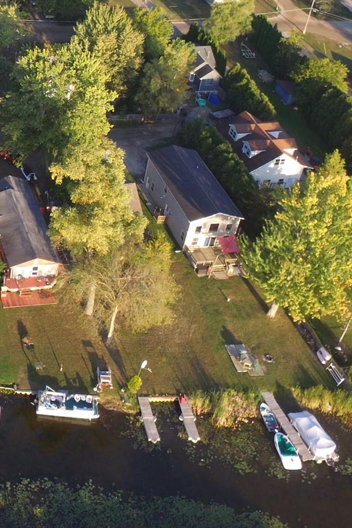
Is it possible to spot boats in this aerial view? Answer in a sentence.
Yes, the frame does contain a boat.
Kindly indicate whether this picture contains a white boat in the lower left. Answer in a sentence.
Yes, a white boat is visible in the lower left.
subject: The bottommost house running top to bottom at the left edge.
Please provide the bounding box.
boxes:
[0,175,69,311]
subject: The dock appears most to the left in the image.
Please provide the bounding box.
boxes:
[137,397,161,445]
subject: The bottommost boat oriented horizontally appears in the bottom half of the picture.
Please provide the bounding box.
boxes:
[36,390,99,416]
